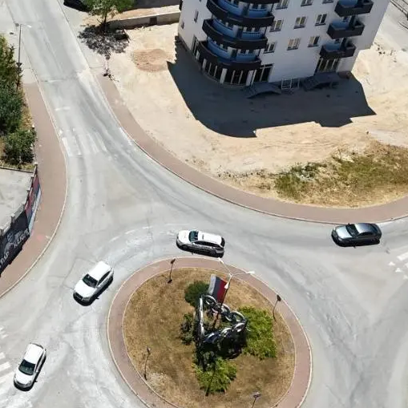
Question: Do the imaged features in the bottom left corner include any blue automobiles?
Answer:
No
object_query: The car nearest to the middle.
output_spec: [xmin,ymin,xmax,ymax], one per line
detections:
[176,229,227,258]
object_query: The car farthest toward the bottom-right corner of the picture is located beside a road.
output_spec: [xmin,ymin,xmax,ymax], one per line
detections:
[330,221,387,246]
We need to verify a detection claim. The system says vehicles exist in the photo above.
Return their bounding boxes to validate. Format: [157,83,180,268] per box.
[330,221,387,246]
[176,229,227,258]
[12,339,49,391]
[74,259,115,303]
[64,0,95,9]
